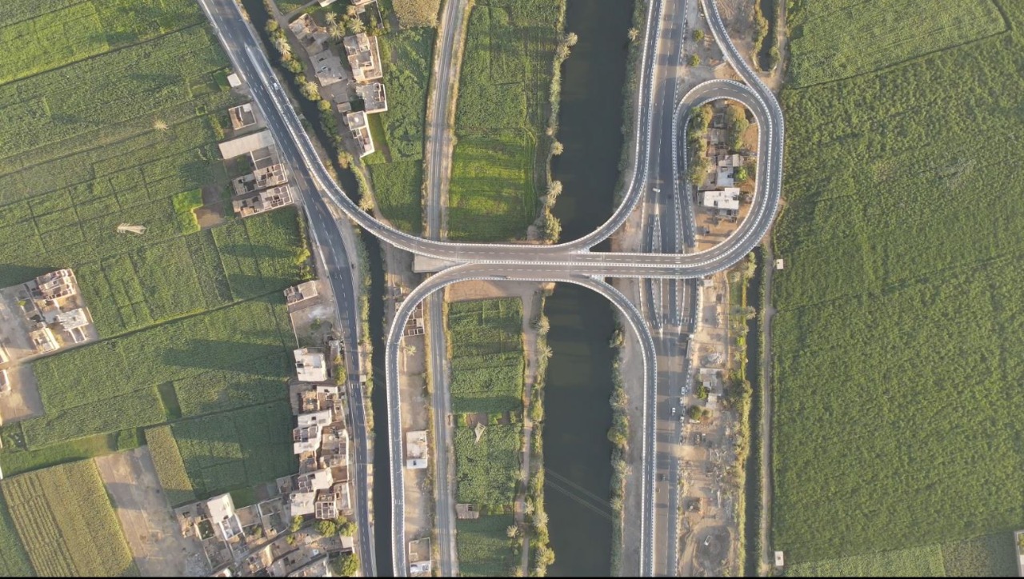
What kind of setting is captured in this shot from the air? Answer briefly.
farmland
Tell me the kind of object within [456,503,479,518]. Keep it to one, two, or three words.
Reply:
shed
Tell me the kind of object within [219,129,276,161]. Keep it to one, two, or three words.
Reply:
hangar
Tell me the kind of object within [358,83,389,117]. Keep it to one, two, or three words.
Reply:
house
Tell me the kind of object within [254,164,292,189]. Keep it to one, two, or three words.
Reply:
house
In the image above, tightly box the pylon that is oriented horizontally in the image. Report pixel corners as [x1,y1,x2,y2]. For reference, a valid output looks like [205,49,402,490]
[116,222,147,236]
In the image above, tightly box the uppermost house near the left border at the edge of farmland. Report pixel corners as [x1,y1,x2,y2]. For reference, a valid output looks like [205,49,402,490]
[37,269,85,300]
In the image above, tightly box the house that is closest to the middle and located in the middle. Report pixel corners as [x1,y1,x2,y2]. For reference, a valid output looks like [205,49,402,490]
[396,300,425,336]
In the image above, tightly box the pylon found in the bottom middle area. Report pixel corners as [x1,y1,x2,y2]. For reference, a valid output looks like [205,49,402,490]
[473,423,487,446]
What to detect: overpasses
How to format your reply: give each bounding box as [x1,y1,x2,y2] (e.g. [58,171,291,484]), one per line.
[241,0,784,579]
